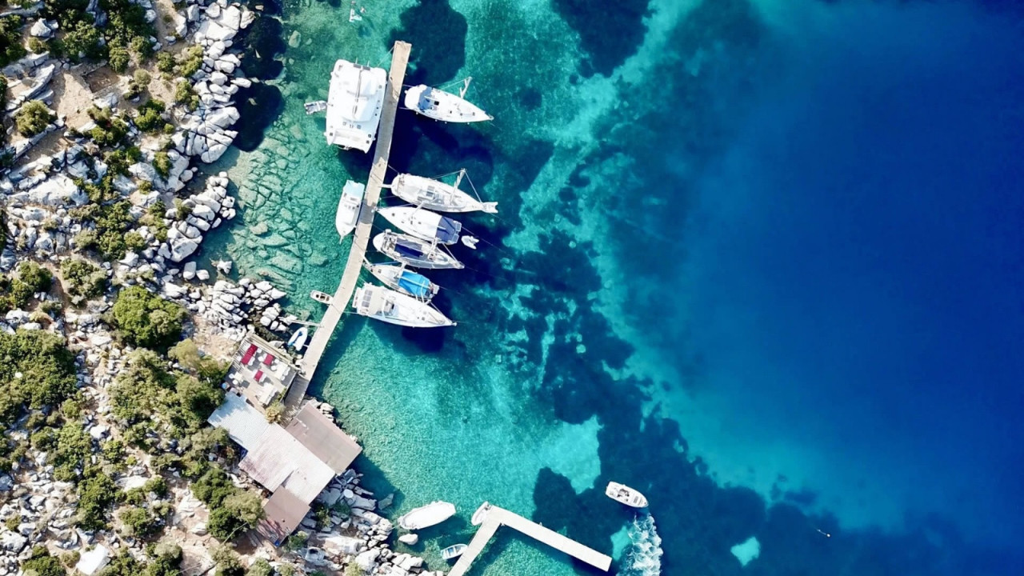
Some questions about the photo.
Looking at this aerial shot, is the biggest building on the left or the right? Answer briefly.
left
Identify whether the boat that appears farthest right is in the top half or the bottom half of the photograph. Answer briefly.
bottom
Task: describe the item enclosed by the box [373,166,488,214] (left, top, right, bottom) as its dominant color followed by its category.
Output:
white boat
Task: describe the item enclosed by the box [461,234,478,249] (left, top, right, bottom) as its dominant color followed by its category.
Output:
white boat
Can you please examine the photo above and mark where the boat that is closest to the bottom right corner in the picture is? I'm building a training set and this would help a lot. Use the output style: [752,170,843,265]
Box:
[604,483,646,508]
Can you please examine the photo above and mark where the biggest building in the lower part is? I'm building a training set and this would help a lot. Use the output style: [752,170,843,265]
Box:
[208,392,361,547]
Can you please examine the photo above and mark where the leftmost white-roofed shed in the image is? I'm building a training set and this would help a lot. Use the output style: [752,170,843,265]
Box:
[76,543,109,575]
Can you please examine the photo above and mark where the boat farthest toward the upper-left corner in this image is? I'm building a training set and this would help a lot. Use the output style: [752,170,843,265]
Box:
[304,100,327,113]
